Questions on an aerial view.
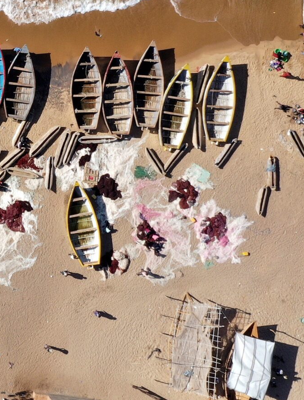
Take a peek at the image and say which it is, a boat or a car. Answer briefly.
boat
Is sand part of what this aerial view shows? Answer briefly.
Yes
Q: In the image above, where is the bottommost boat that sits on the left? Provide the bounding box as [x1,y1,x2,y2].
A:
[65,181,101,269]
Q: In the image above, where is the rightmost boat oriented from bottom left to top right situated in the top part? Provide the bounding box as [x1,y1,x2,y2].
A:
[214,138,237,168]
